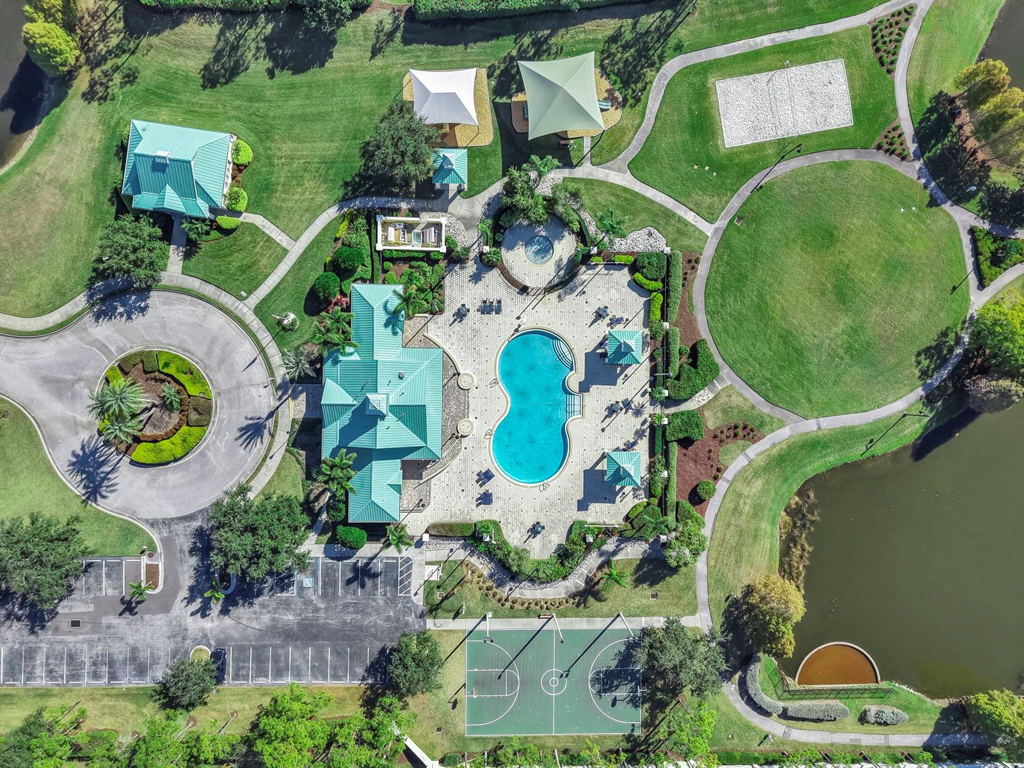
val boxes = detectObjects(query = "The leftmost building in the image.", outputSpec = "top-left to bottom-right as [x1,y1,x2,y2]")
[122,119,235,221]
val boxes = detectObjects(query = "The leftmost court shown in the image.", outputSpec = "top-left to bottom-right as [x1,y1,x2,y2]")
[466,630,641,735]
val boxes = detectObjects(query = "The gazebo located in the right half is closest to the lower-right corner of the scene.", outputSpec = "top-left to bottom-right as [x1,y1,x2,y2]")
[604,450,642,487]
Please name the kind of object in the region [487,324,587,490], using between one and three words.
swimming pool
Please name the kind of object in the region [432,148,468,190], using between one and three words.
gazebo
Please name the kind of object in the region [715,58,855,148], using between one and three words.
sports court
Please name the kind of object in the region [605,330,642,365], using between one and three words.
gazebo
